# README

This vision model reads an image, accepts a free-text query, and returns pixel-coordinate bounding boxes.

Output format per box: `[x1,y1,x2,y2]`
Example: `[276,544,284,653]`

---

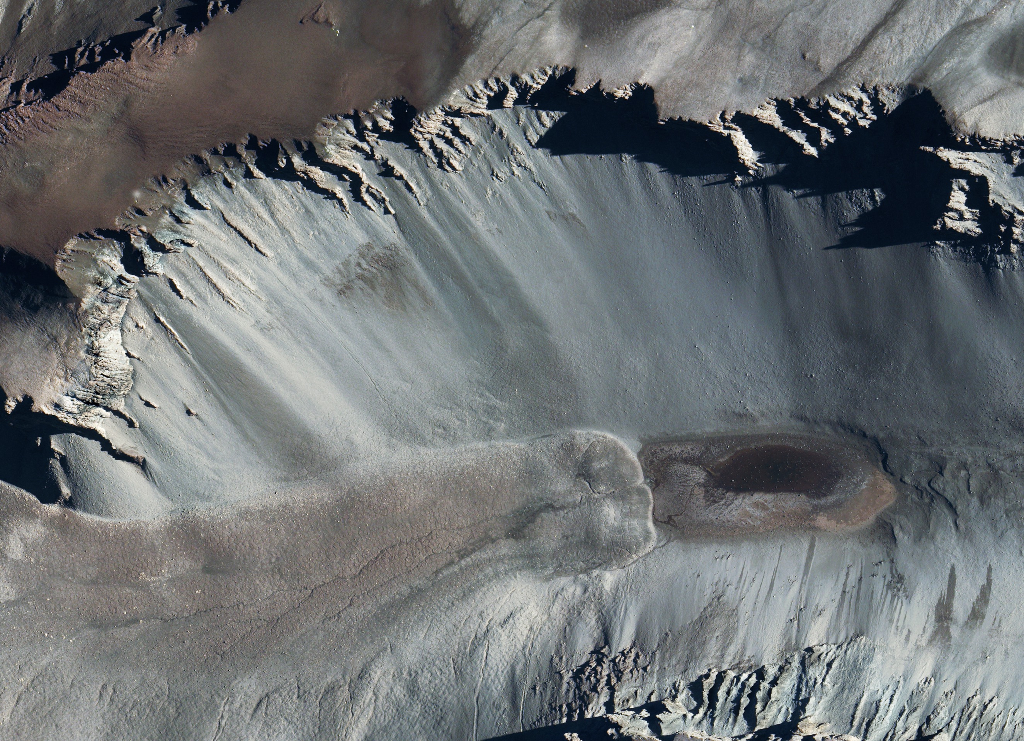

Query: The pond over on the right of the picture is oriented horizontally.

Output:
[709,445,840,497]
